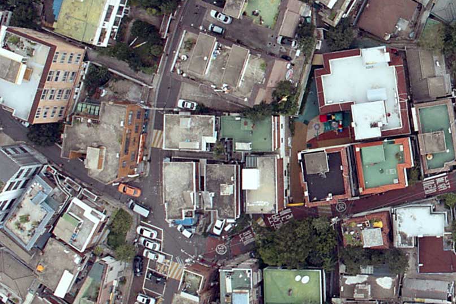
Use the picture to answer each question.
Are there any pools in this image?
No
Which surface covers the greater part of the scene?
buildings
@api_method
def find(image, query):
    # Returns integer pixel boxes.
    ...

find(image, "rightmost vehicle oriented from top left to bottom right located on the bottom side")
[175,226,195,240]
